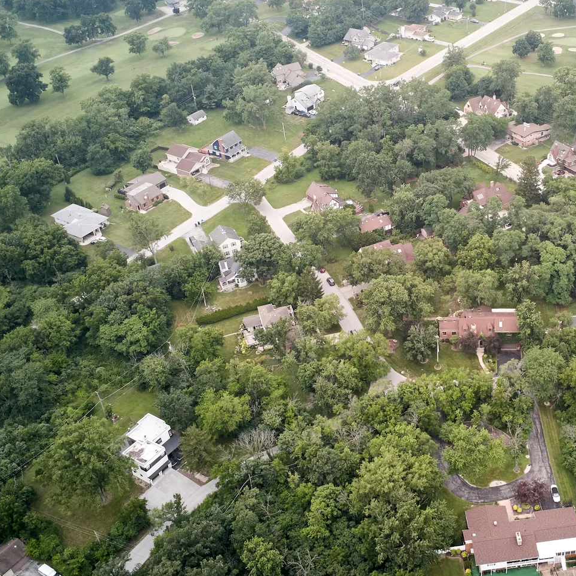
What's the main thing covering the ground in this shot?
trees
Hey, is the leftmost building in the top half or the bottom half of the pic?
bottom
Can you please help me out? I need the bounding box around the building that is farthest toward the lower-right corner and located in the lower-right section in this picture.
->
[462,500,576,576]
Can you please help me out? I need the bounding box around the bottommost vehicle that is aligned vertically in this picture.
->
[549,482,561,503]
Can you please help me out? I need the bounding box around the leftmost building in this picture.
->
[0,540,34,576]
